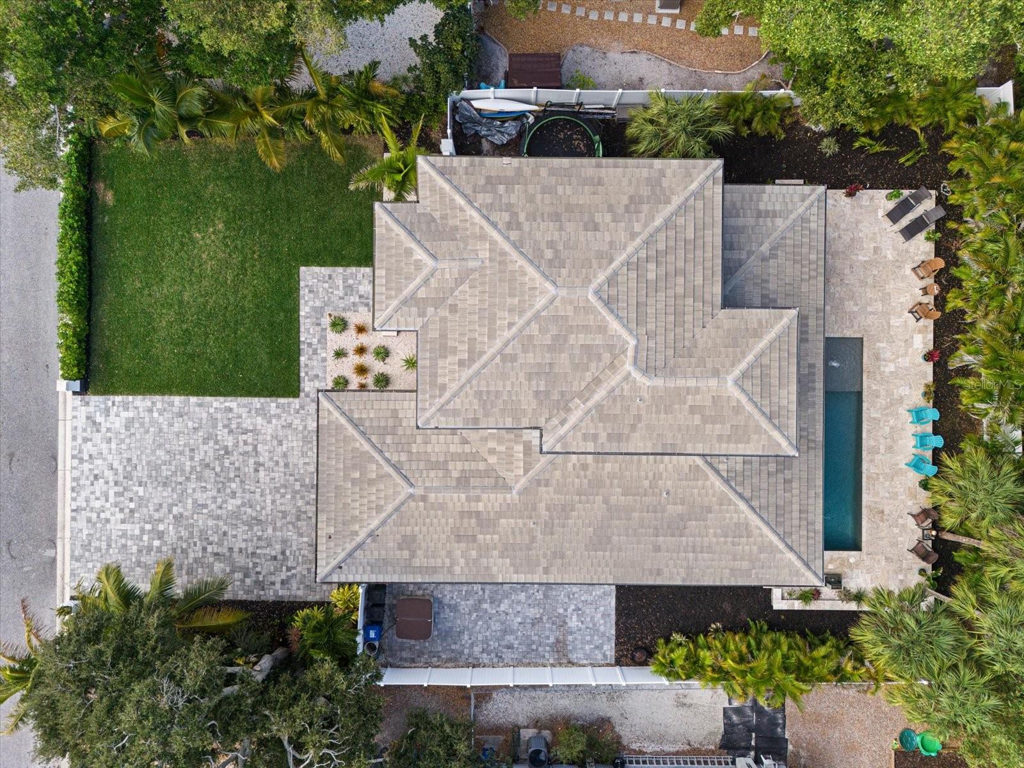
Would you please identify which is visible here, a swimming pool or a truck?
swimming pool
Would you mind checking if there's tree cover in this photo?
Yes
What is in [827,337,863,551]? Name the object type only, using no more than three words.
swimming pool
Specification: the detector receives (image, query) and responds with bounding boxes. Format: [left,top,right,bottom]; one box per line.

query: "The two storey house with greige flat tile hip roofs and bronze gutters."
[315,154,828,586]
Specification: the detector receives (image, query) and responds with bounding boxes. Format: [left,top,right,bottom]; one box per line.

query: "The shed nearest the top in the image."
[509,54,561,88]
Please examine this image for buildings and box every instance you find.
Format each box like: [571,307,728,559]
[315,154,828,586]
[509,54,561,88]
